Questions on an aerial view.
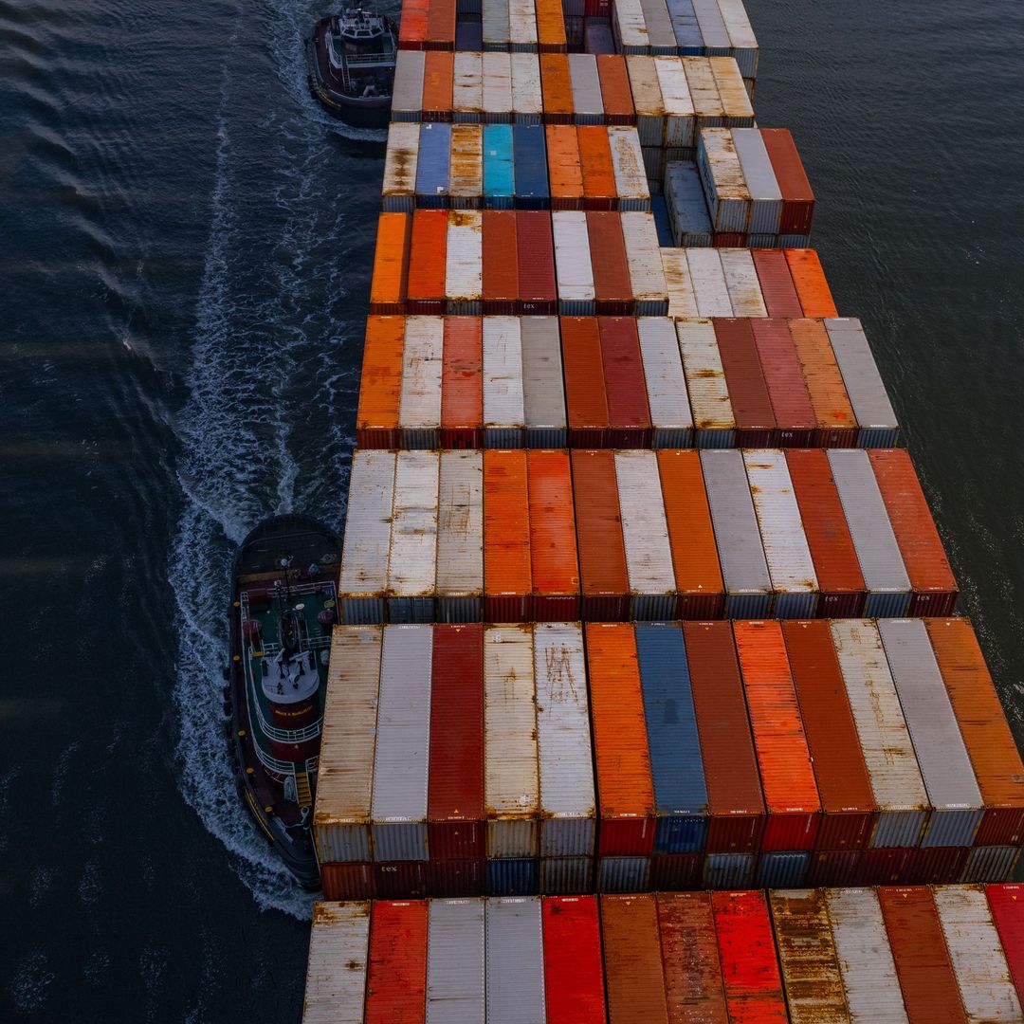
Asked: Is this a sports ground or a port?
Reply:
port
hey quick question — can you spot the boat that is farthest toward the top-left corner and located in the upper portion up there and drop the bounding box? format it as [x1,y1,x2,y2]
[309,0,400,131]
